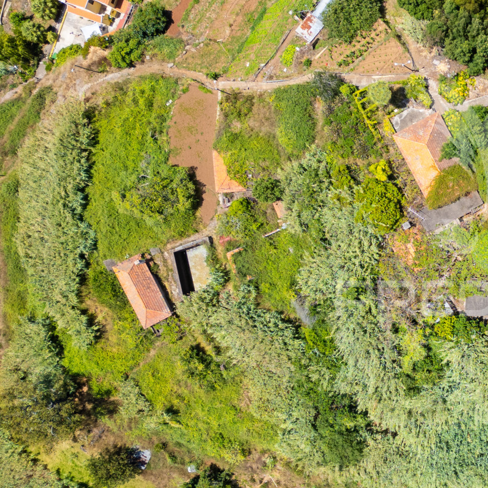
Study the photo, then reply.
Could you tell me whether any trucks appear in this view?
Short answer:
No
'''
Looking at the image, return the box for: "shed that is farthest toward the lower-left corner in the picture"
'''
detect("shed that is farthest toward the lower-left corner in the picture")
[111,253,176,330]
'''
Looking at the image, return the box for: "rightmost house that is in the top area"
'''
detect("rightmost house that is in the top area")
[390,107,483,233]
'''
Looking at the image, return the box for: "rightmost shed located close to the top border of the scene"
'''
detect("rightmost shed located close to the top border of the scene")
[296,0,339,44]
